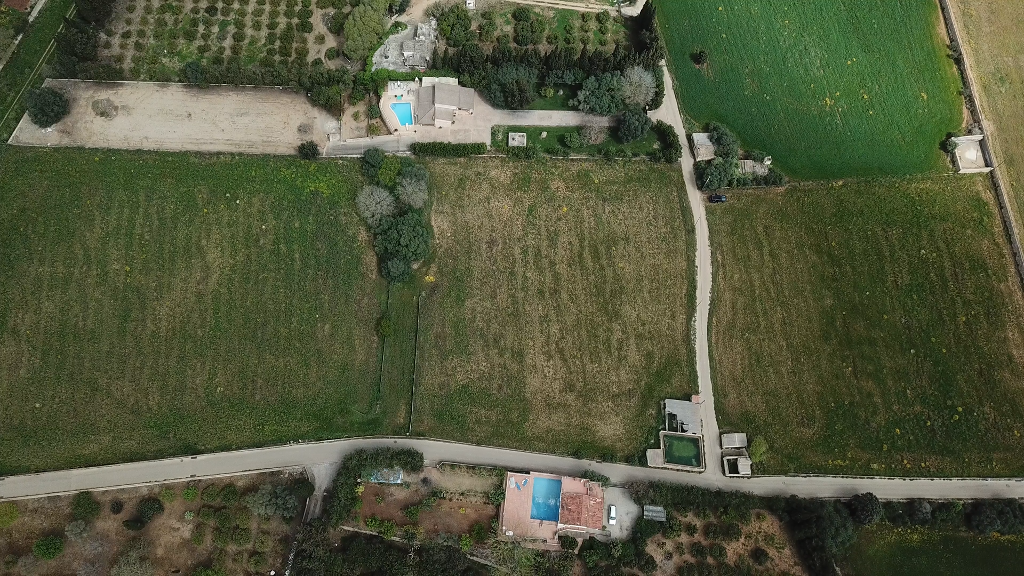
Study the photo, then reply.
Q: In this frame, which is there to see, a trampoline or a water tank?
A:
water tank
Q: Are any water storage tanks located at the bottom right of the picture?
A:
No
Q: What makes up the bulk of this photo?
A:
grass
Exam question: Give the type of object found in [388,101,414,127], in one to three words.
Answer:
swimming pool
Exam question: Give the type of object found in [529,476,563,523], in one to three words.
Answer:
swimming pool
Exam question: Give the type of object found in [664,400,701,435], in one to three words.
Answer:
barn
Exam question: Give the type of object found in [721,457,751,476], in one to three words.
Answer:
shed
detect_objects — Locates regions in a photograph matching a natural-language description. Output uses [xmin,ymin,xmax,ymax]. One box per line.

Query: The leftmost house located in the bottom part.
[555,493,612,542]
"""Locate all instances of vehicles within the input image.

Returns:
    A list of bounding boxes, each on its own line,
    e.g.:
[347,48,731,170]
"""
[710,193,728,203]
[608,503,618,524]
